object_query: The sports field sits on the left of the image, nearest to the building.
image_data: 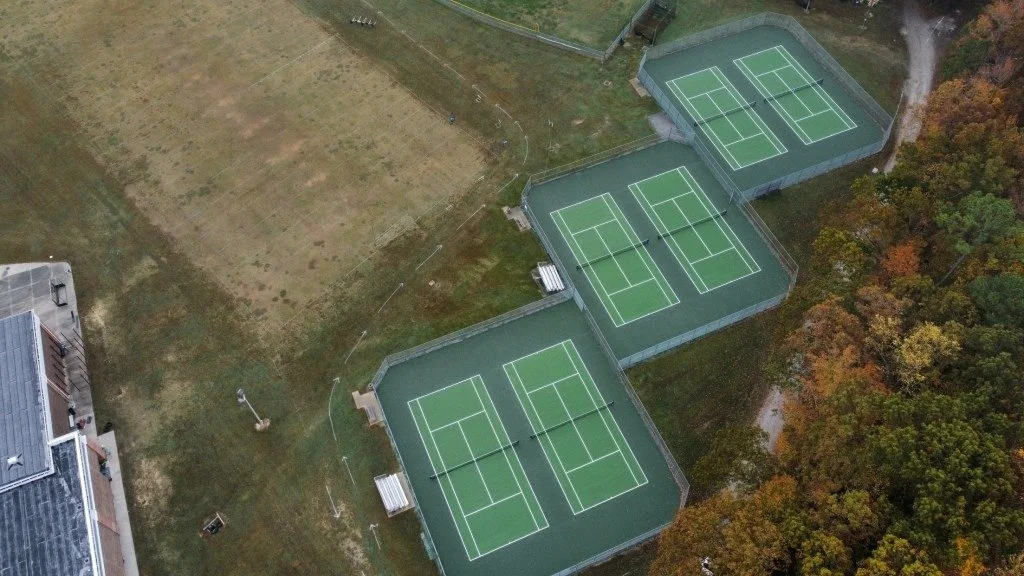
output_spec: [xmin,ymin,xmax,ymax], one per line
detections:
[0,0,528,370]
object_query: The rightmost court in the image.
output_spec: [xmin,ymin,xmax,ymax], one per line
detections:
[734,45,857,144]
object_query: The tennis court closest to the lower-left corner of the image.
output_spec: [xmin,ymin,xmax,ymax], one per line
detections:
[408,375,549,560]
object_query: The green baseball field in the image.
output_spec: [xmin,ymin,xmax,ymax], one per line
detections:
[439,0,653,60]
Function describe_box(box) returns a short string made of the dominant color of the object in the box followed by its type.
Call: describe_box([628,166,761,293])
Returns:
green tennis court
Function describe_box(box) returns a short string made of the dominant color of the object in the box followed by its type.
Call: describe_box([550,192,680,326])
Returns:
green tennis court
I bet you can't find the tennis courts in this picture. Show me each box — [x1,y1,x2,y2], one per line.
[503,339,648,514]
[408,375,549,560]
[550,192,680,326]
[628,166,761,293]
[667,66,788,170]
[734,45,857,144]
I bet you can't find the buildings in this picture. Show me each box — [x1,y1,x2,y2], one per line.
[0,317,126,576]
